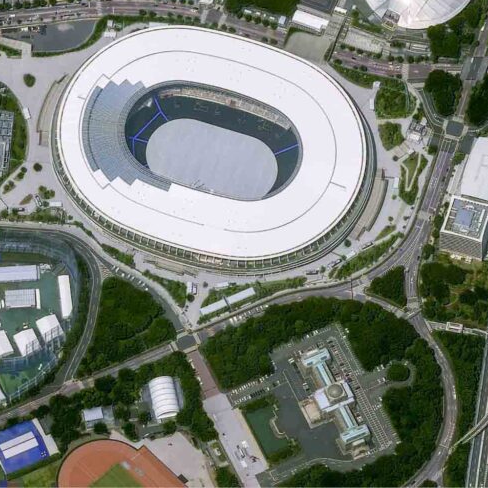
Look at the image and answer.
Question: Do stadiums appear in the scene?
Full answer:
Yes, a stadium is visible in the scene.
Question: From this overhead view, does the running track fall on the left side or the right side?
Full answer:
The running track is on the left side of the image.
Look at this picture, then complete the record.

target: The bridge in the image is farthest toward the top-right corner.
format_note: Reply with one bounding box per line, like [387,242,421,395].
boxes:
[459,45,488,90]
